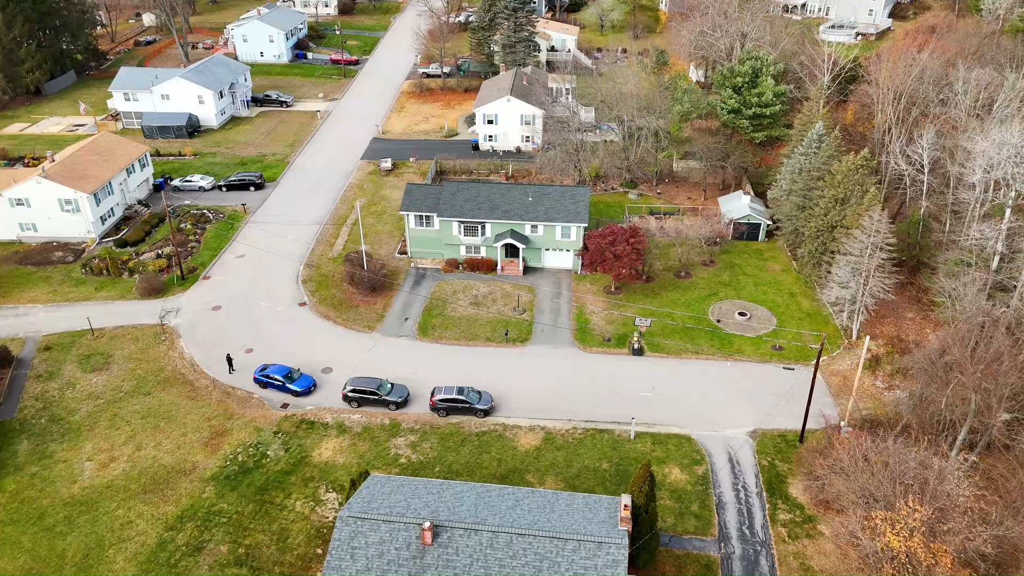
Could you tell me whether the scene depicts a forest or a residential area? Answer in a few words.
residential area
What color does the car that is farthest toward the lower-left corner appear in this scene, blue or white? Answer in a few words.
blue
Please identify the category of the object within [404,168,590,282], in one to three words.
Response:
building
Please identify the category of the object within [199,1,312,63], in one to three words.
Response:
house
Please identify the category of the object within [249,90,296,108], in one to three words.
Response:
vehicle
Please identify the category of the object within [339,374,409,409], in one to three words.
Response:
car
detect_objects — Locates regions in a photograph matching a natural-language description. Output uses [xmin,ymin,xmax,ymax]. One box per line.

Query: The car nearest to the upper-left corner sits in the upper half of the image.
[169,172,216,191]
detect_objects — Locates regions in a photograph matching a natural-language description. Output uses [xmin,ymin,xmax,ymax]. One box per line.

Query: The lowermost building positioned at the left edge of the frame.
[0,128,156,247]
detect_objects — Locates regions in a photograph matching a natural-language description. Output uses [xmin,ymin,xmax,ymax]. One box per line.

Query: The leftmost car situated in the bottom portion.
[251,361,316,396]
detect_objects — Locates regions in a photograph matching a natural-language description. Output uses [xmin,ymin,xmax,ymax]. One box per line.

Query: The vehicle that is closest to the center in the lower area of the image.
[428,382,496,418]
